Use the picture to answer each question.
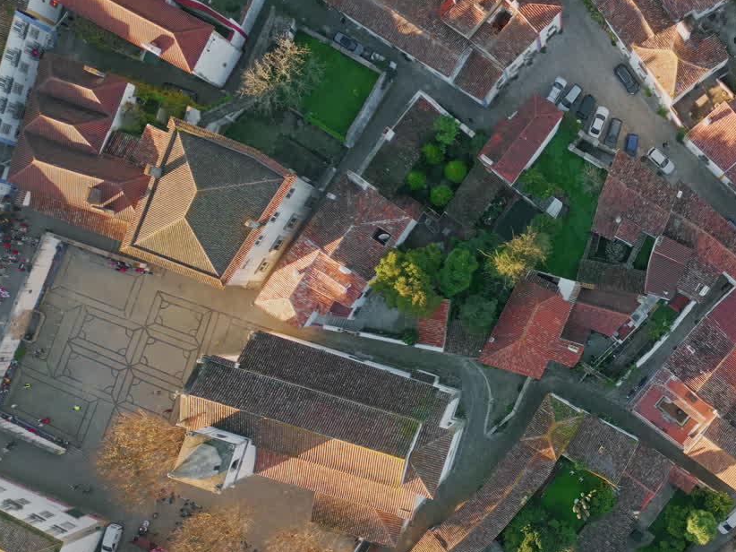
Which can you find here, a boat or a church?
church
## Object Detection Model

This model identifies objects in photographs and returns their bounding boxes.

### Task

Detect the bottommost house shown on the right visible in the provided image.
[581,480,654,552]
